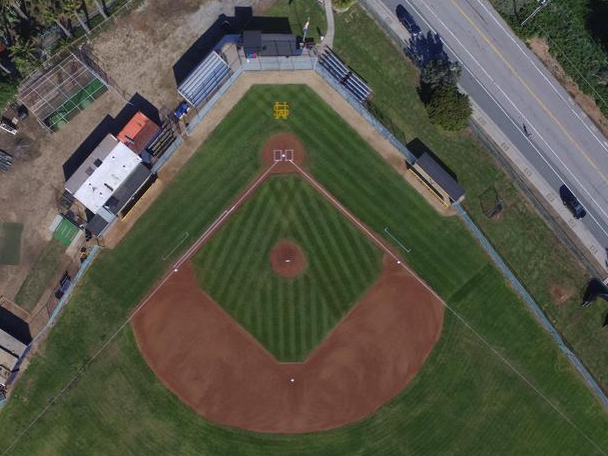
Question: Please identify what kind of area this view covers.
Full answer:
It's a sports ground.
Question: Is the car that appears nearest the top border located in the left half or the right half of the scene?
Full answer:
It is on the right.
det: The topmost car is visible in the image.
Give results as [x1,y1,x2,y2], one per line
[400,9,423,37]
